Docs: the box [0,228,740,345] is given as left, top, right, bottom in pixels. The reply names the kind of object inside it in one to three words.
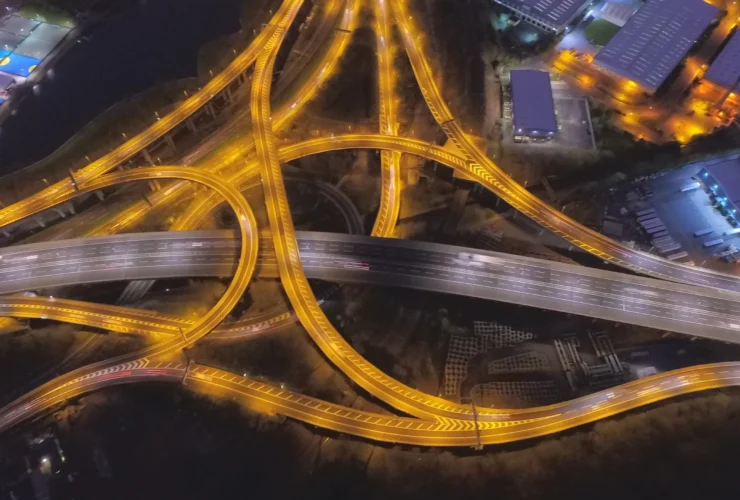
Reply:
bridge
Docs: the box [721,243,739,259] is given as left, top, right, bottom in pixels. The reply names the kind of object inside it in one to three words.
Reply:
vehicle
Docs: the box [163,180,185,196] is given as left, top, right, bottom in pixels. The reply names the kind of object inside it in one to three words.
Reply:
vehicle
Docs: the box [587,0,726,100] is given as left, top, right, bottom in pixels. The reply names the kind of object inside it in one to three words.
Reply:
building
